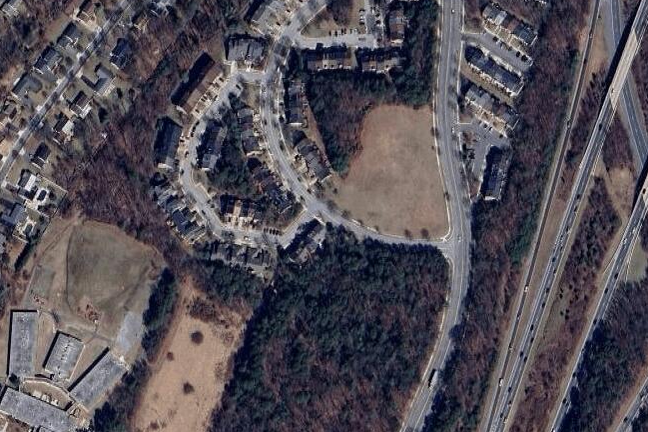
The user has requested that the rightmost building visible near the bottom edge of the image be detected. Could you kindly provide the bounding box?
[69,351,128,411]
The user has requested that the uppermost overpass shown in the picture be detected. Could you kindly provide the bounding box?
[607,28,642,111]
